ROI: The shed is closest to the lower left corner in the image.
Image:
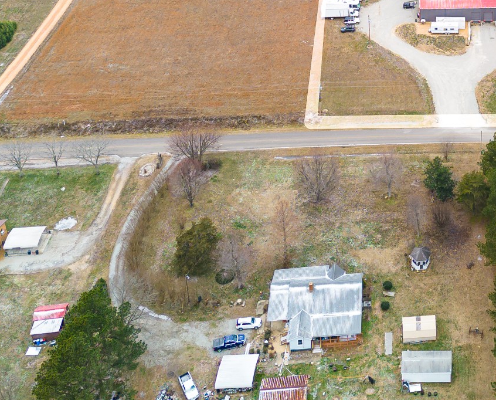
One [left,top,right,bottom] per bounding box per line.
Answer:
[26,297,74,338]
